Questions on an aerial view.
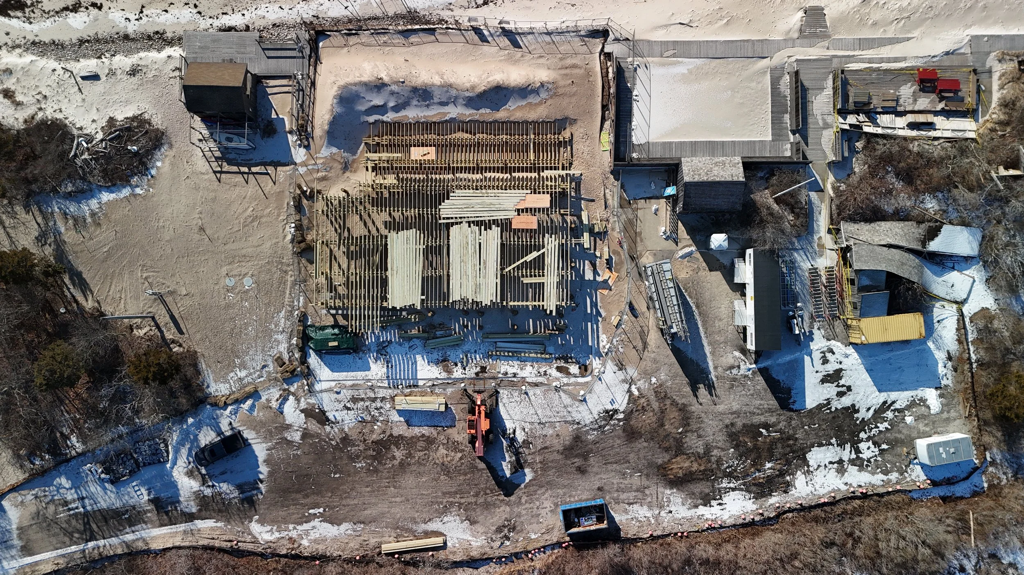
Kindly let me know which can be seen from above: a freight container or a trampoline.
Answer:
freight container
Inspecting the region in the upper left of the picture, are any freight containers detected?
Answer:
No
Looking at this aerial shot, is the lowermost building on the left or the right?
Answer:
right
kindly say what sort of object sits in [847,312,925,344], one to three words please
shipping container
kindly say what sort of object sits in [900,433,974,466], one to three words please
trailer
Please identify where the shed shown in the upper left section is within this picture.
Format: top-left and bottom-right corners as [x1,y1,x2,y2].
[173,61,257,115]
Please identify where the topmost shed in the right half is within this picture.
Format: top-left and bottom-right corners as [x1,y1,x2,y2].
[677,156,750,212]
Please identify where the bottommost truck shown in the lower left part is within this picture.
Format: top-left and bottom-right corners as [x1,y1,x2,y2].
[191,428,253,470]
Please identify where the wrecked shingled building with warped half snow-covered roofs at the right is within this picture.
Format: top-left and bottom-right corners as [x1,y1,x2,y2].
[836,221,982,319]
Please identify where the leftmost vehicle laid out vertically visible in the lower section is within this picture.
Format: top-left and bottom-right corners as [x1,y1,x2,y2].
[462,377,500,457]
